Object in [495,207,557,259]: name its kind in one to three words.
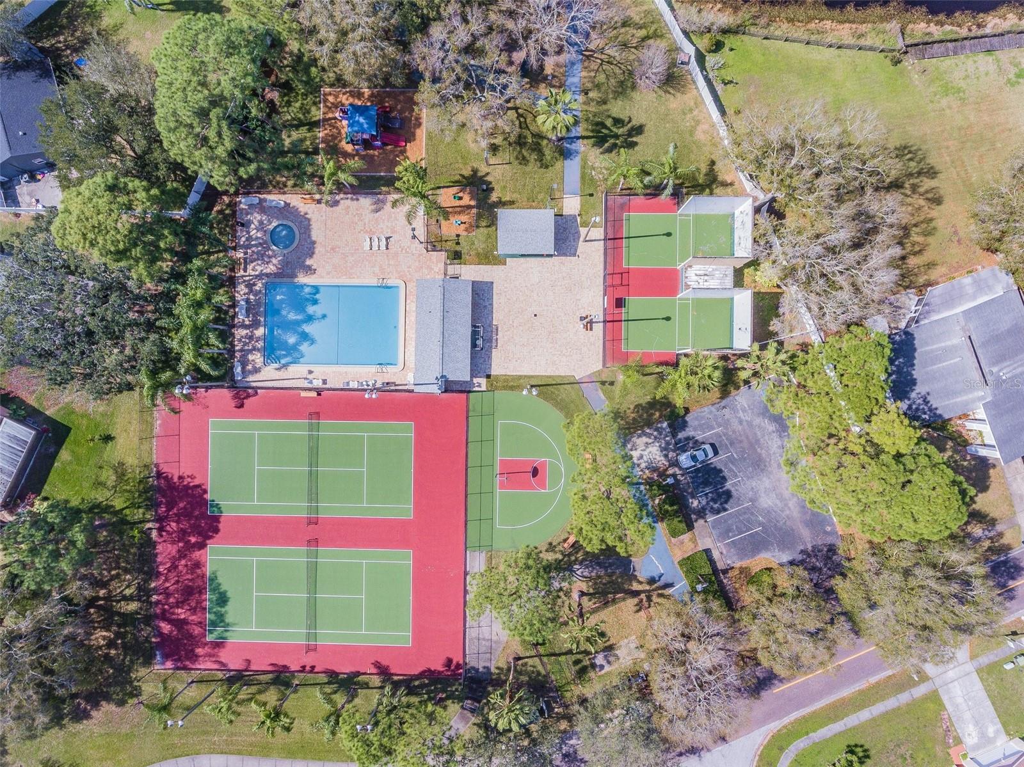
building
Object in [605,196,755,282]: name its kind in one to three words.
sports court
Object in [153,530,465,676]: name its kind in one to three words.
tennis court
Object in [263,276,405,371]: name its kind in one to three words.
swimming pool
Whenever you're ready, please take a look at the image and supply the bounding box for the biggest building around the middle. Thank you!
[414,279,472,392]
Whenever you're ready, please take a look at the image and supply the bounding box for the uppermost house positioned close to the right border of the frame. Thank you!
[888,267,1024,465]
